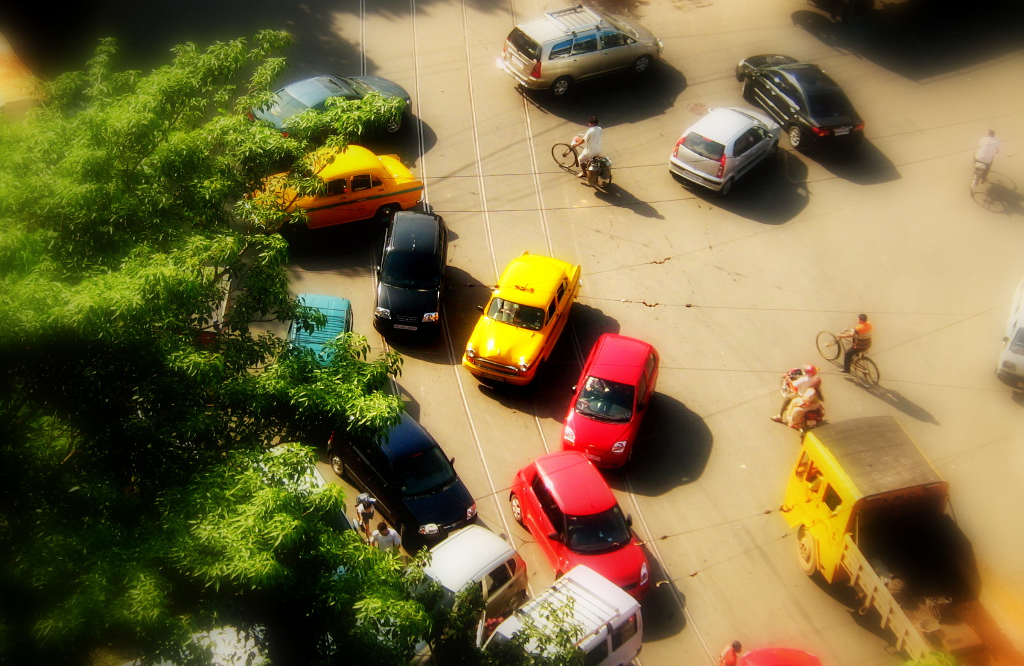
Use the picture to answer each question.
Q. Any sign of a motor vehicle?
Yes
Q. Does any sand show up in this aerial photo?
No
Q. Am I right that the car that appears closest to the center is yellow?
Yes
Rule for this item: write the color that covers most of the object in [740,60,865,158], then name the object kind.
black car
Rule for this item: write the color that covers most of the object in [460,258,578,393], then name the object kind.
yellow car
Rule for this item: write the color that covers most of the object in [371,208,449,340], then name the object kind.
black car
